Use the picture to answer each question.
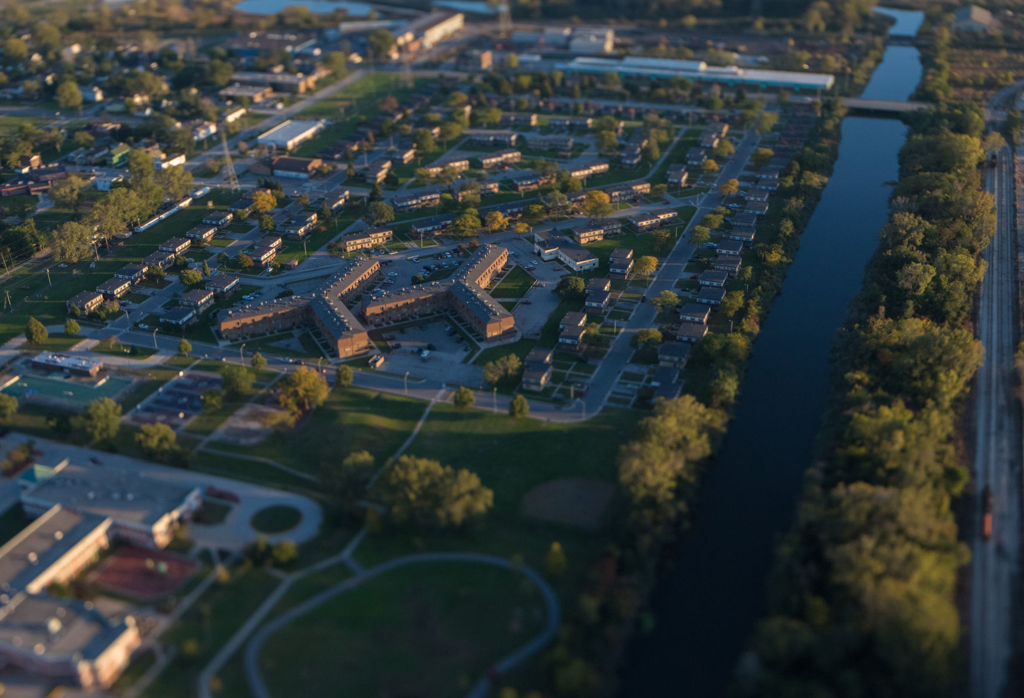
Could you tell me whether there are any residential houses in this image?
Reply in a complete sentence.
Yes, the frame does contain a residential house.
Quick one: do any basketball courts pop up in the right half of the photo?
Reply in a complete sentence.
No, the scene shows no basketball court in the right half of the photo.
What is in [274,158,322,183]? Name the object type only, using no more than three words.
building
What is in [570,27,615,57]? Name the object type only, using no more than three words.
shed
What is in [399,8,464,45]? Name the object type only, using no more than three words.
building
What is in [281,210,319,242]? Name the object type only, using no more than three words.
house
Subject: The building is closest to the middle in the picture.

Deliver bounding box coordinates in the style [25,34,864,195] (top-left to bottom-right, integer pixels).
[520,345,555,393]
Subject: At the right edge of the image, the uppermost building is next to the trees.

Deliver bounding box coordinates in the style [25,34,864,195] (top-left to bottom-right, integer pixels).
[952,6,1000,38]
